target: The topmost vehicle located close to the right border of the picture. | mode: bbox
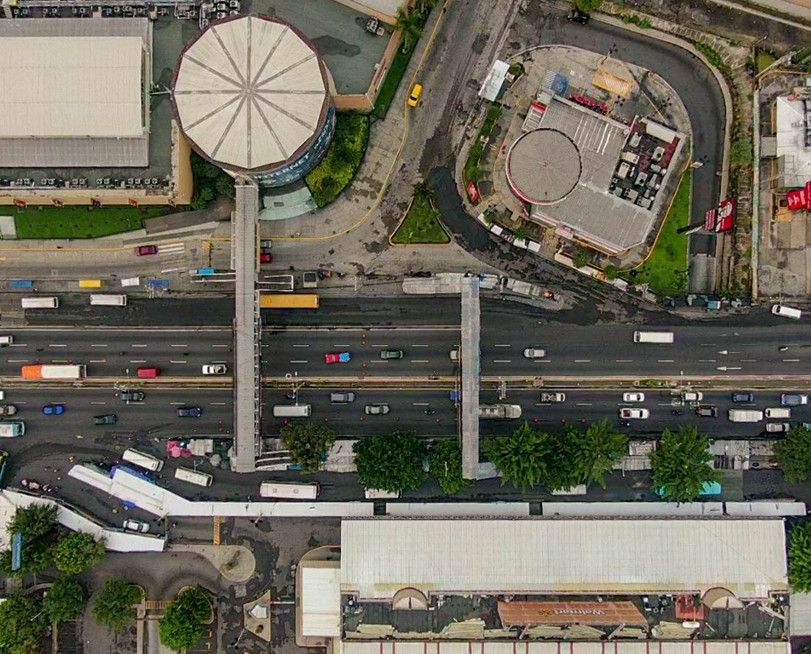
[772,302,805,320]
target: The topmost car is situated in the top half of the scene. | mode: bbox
[569,7,589,21]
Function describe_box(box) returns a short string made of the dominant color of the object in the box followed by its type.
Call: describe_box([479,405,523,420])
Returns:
gray vehicle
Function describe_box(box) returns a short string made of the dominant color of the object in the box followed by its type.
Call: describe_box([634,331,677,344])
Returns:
white vehicle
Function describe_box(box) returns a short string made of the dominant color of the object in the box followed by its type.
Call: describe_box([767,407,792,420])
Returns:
white vehicle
